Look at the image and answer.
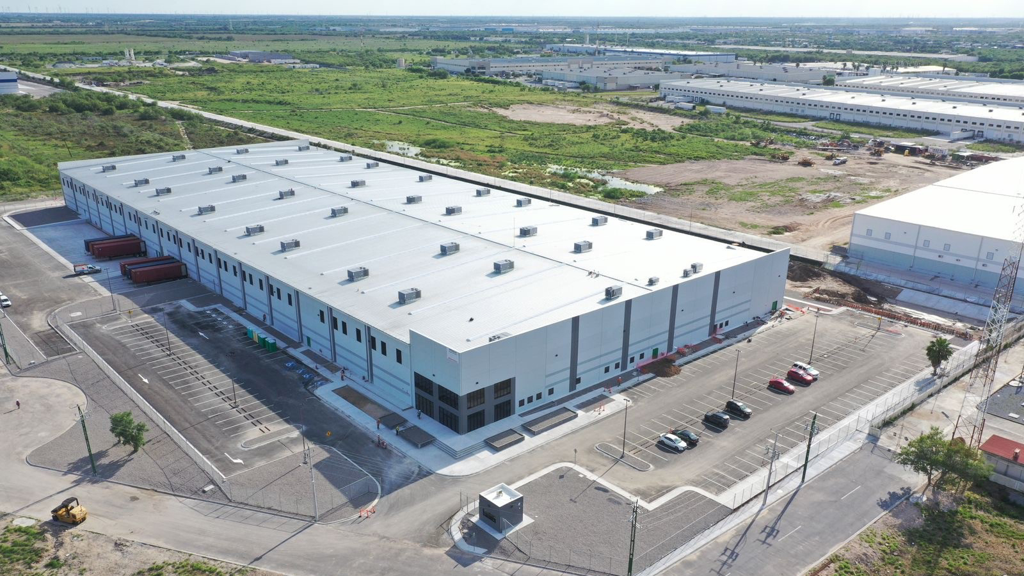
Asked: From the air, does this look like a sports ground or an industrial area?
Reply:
industrial area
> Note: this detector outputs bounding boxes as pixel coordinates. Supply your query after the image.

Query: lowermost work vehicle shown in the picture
[47,495,88,524]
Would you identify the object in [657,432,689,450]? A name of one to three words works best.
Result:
car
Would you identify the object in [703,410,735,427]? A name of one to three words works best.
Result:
car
